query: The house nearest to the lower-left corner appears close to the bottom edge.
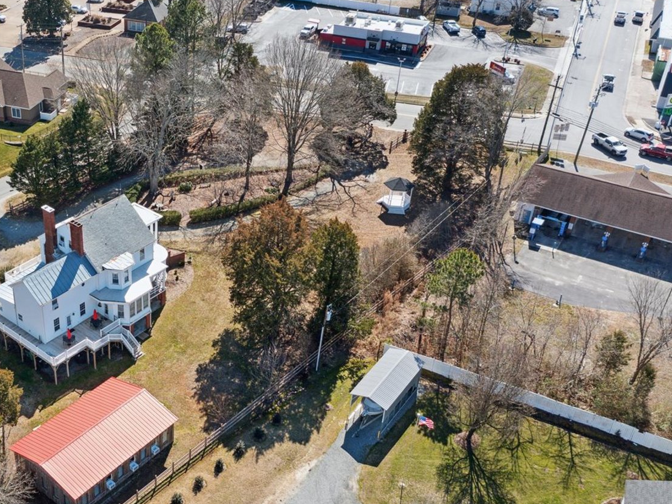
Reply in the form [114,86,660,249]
[8,379,177,504]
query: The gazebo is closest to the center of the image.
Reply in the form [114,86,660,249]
[377,172,418,210]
